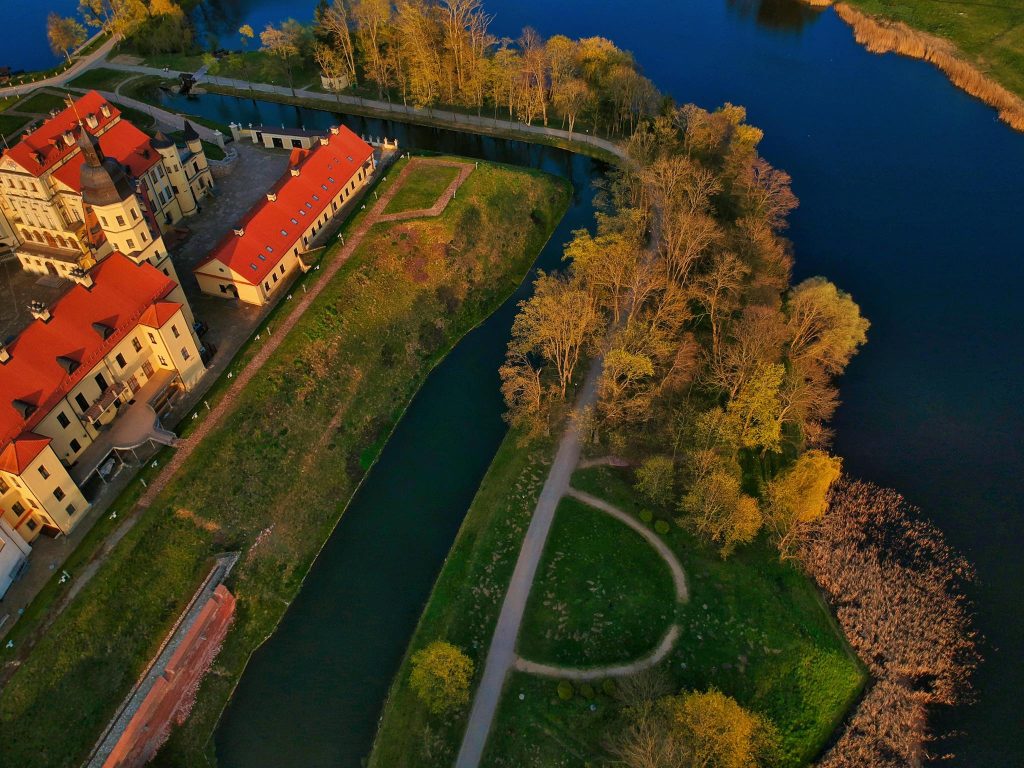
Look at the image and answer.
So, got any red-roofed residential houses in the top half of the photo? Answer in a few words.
Yes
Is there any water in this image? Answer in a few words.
Yes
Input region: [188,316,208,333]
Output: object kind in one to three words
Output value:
car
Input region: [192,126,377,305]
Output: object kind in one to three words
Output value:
house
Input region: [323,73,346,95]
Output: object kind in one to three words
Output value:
building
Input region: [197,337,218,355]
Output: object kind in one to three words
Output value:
car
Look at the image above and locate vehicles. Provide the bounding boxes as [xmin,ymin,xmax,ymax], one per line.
[197,337,218,355]
[188,316,208,333]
